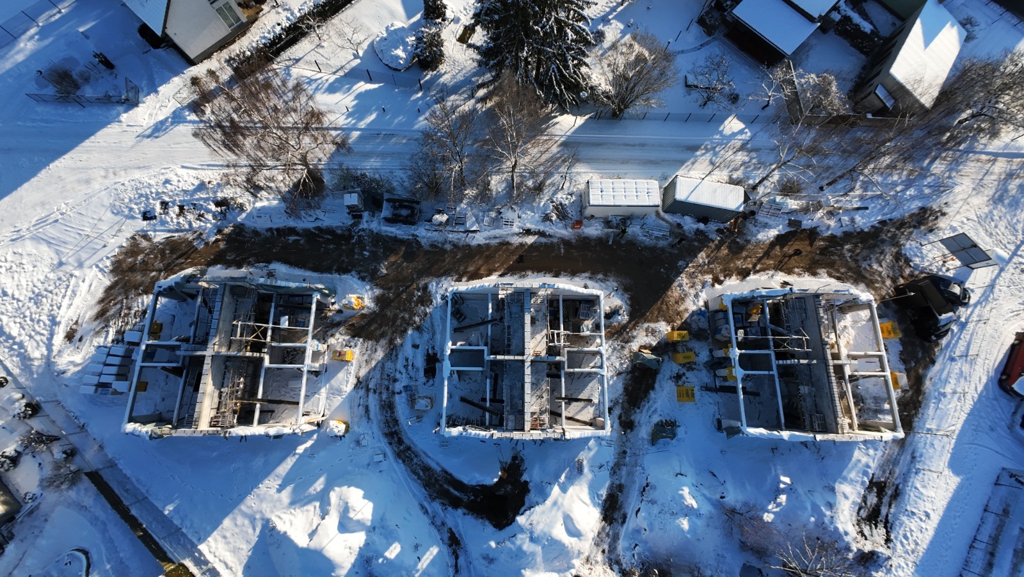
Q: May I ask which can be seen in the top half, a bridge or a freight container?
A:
freight container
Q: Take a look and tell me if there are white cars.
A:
No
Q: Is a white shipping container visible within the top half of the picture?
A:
Yes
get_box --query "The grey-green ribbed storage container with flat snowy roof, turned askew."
[667,175,748,222]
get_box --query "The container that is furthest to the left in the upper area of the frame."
[584,179,660,219]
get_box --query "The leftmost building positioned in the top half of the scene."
[125,0,265,65]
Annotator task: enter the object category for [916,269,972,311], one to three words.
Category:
car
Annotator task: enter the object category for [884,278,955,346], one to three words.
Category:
van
